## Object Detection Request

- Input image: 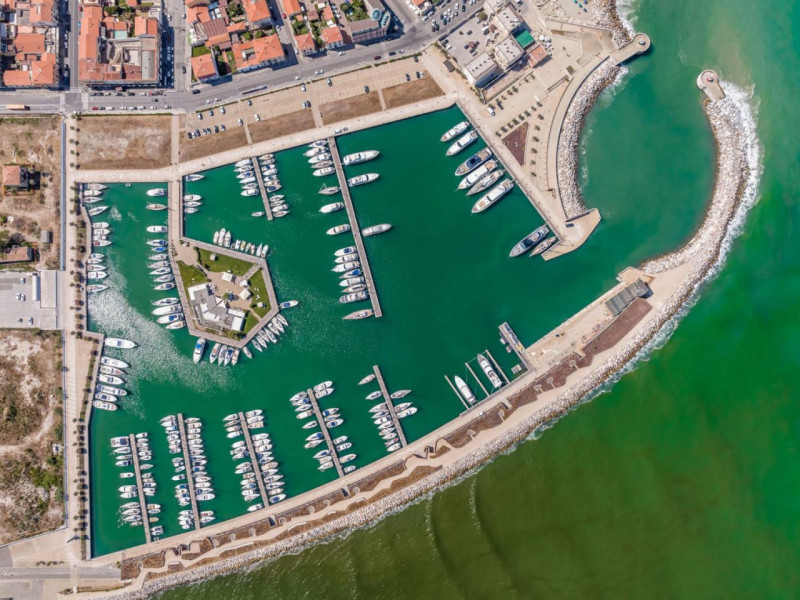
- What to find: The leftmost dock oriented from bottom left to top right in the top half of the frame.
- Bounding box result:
[610,33,651,68]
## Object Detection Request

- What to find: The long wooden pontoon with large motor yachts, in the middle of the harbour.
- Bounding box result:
[329,138,382,318]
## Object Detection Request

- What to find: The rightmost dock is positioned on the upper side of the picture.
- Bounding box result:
[695,70,725,103]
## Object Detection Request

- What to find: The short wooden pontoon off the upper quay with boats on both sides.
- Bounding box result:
[252,158,273,220]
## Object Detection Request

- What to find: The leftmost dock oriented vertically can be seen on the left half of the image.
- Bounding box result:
[130,434,152,543]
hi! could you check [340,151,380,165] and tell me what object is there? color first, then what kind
white boat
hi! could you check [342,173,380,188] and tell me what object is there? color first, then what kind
white boat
